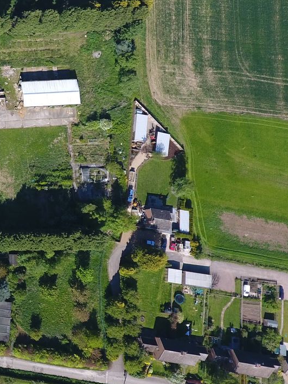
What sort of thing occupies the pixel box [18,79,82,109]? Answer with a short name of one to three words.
barn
